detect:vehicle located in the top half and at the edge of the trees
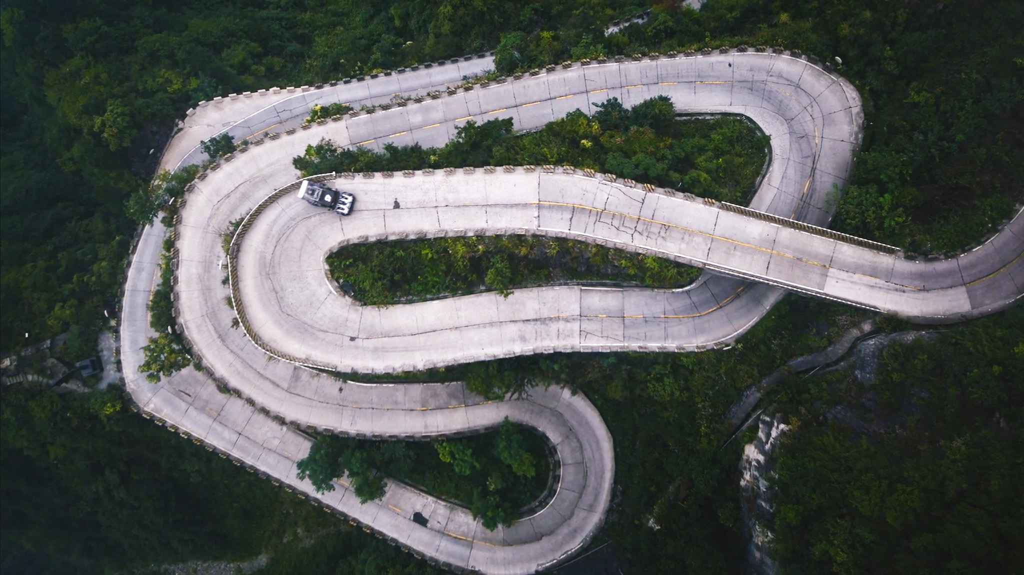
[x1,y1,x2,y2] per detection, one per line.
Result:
[294,177,355,214]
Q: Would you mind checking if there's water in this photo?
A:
No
